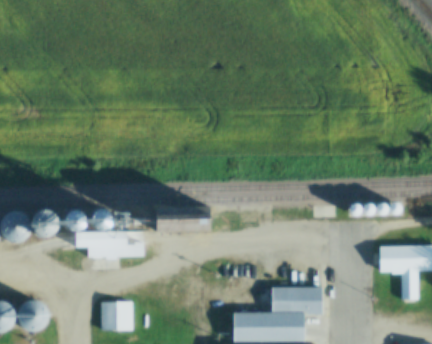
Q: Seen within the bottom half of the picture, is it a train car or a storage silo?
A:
storage silo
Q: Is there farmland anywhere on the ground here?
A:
Yes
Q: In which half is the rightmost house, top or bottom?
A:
bottom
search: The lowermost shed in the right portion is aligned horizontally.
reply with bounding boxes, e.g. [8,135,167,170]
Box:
[233,312,304,342]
